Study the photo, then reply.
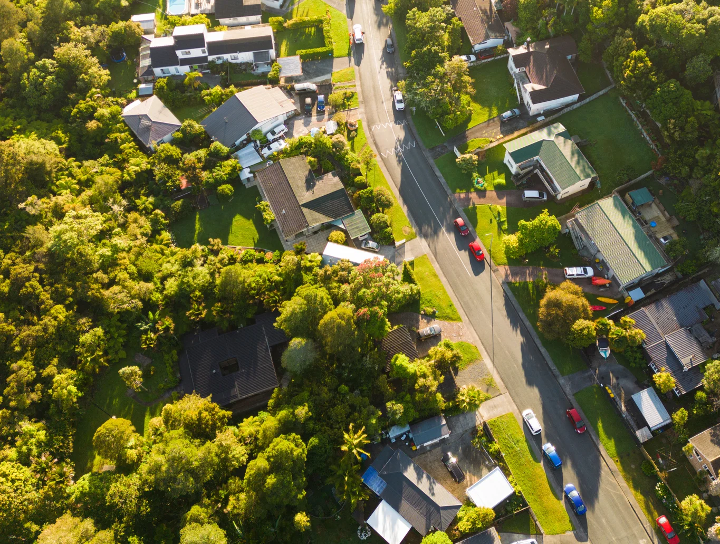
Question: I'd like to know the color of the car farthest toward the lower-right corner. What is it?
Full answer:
In this view, the car farthest toward the lower-right corner is red.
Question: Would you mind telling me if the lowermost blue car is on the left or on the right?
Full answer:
The lowermost blue car sits on the right side.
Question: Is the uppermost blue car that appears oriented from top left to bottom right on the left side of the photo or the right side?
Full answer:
The uppermost blue car that appears oriented from top left to bottom right is on the right side of the image.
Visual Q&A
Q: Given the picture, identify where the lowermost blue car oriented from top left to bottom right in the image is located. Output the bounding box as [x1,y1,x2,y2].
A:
[563,485,587,514]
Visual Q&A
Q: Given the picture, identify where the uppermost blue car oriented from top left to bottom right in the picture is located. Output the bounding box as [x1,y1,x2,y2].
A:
[542,444,562,469]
